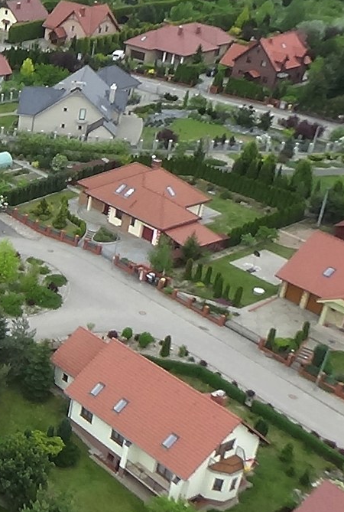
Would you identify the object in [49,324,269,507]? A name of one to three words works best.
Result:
house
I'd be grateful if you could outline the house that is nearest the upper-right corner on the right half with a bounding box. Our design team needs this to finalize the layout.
[207,28,306,87]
